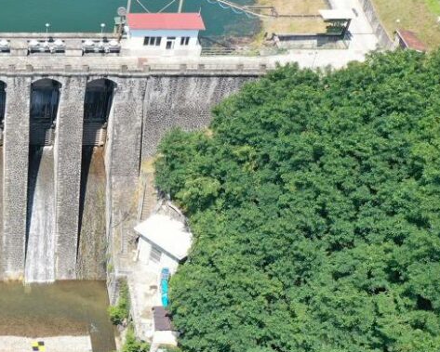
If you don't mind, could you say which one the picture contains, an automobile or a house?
house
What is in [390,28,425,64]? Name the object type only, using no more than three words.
shed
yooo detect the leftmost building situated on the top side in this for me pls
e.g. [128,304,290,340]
[117,5,210,57]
